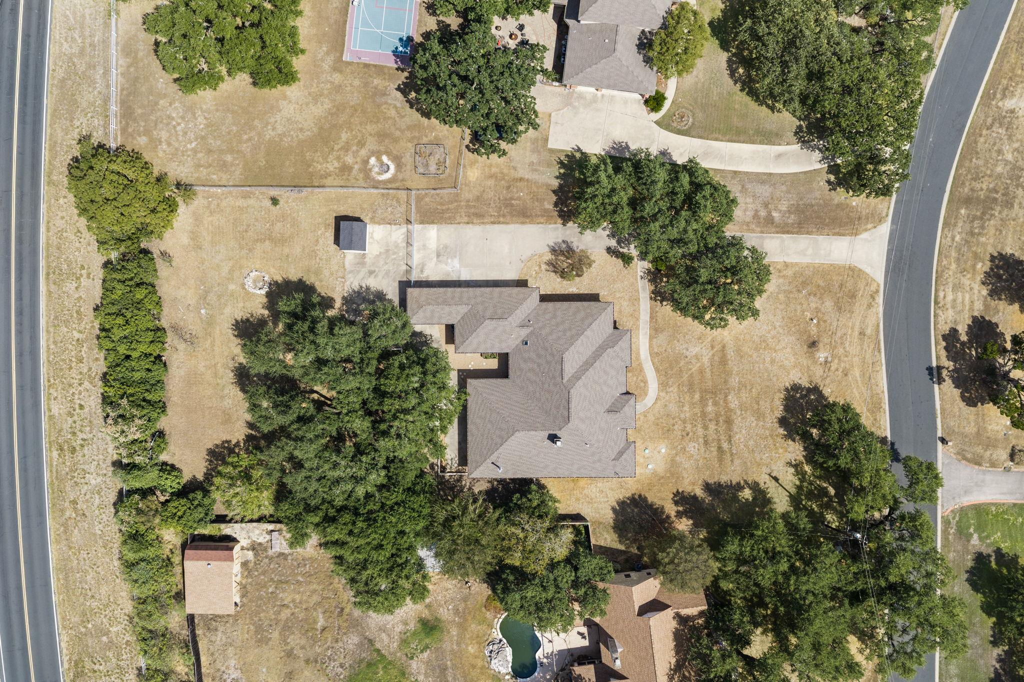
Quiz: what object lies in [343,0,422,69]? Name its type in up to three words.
sports court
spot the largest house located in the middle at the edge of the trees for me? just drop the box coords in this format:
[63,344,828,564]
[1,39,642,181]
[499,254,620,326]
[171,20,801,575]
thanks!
[406,287,636,478]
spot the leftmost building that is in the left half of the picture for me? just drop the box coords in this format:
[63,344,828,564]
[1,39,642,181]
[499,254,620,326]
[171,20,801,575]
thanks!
[181,541,240,614]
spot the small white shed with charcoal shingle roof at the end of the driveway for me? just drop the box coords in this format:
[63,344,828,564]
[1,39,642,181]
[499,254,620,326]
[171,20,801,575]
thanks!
[340,220,371,252]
